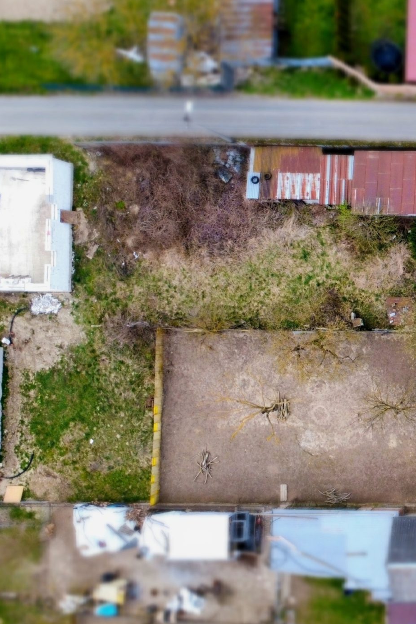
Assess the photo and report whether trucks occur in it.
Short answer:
Yes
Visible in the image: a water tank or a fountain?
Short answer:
water tank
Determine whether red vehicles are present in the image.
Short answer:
No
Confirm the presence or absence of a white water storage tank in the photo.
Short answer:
No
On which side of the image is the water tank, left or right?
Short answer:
right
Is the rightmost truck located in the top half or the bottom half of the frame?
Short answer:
bottom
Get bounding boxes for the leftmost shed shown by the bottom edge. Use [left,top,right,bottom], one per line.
[271,508,398,597]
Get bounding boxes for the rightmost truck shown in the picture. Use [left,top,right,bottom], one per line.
[232,512,264,547]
